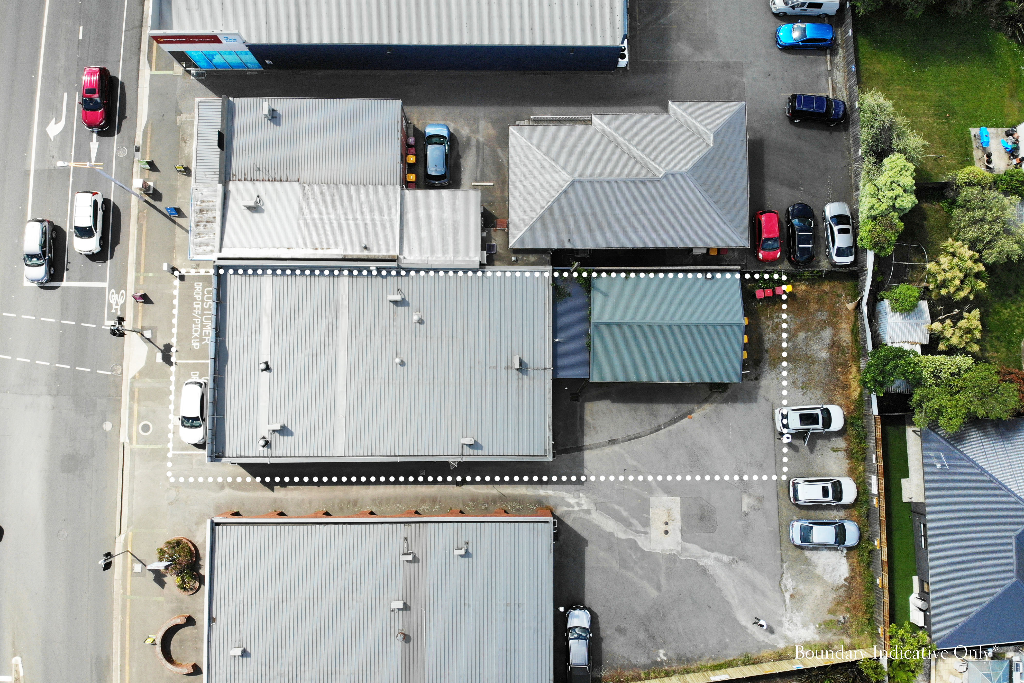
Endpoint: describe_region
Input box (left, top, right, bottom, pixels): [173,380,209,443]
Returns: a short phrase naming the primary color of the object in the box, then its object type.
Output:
white car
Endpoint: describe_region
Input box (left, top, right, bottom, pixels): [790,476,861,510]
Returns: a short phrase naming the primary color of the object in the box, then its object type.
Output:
white car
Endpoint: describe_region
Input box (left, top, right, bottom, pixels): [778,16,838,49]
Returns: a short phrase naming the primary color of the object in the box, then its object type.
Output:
blue car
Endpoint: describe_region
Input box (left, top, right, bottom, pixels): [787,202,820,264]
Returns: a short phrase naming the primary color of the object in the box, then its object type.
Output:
black car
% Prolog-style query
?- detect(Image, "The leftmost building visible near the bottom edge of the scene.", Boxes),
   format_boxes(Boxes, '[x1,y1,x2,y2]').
[201,510,559,683]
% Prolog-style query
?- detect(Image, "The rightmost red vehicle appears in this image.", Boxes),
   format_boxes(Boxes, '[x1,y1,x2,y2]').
[756,209,787,262]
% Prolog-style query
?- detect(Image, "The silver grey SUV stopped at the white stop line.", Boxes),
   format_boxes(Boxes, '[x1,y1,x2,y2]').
[14,218,55,284]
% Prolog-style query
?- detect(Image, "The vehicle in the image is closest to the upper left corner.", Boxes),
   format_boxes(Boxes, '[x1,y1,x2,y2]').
[74,66,111,129]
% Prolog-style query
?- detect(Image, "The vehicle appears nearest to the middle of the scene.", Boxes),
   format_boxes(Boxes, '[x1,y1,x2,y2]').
[420,123,451,184]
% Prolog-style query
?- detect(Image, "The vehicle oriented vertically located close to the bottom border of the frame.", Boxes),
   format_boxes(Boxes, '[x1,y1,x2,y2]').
[563,603,596,683]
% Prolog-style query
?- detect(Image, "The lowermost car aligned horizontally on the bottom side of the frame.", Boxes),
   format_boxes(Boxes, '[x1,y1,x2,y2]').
[790,519,863,552]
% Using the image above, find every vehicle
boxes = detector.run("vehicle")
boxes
[773,0,845,16]
[173,380,209,443]
[74,66,111,129]
[563,603,596,683]
[788,91,850,125]
[420,123,451,184]
[790,519,863,552]
[778,16,838,49]
[65,190,105,254]
[787,202,820,264]
[823,201,858,264]
[777,402,848,447]
[14,218,55,284]
[756,209,787,262]
[790,476,861,510]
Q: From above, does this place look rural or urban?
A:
urban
